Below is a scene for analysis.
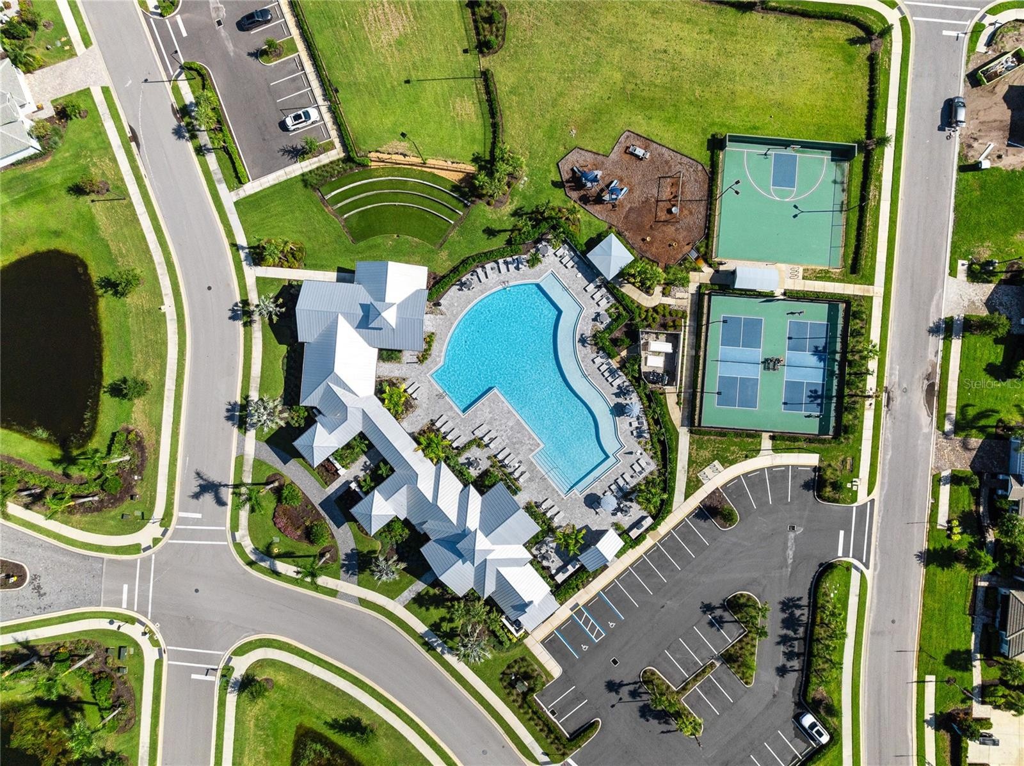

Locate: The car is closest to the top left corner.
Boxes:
[236,5,273,29]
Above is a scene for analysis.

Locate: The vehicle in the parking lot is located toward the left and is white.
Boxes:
[281,105,319,129]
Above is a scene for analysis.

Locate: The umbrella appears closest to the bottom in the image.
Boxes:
[600,494,617,510]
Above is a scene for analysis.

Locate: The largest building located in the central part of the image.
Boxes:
[292,261,560,632]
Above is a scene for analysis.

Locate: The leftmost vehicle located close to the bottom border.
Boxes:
[798,712,832,746]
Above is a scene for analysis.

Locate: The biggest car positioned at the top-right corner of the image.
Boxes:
[949,93,970,128]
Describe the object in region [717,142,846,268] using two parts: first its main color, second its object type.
green basketball court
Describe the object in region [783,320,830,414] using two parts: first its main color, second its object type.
blue sports court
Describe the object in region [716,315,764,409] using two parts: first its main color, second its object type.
blue sports court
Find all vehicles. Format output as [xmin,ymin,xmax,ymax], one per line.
[236,5,273,29]
[281,105,319,129]
[798,712,832,746]
[949,93,970,128]
[630,142,651,158]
